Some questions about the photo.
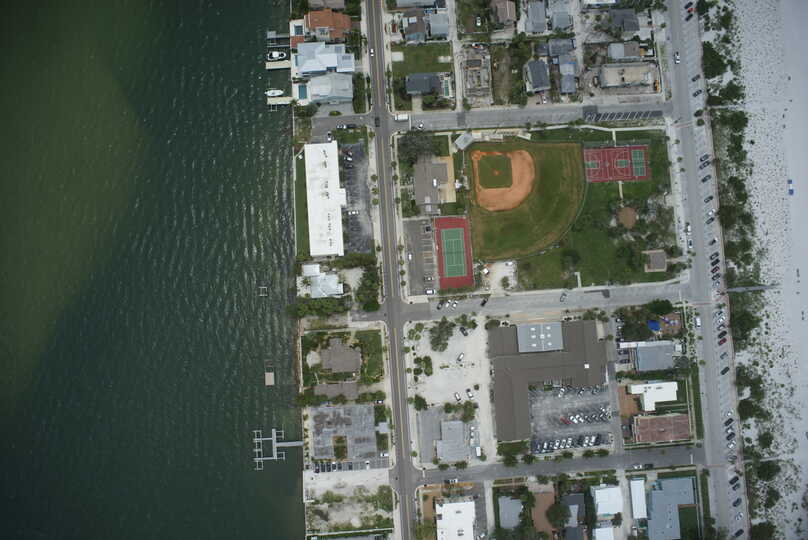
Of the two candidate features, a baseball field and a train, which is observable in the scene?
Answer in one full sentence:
The image shows a baseball field.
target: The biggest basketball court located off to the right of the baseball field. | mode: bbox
[585,146,634,182]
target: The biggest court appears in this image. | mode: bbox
[434,216,476,291]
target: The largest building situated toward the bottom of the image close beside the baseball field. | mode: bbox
[488,321,608,441]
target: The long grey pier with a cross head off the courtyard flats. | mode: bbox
[253,429,304,461]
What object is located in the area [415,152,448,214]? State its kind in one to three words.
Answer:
building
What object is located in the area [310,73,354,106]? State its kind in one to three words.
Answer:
house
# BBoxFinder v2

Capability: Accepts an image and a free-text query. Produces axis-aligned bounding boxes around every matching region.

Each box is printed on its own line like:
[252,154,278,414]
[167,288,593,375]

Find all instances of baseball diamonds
[468,141,587,264]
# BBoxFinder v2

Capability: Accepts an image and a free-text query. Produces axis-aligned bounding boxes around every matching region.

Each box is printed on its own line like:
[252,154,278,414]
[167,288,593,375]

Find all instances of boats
[265,89,285,96]
[267,52,286,60]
